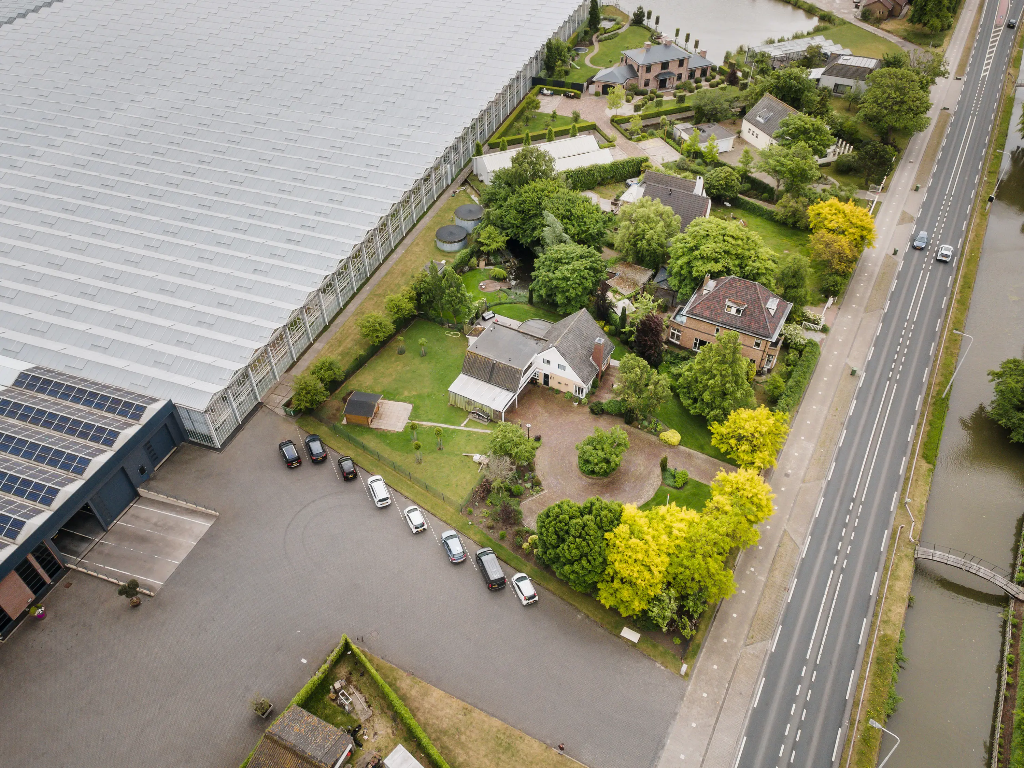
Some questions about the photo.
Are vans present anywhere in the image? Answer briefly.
Yes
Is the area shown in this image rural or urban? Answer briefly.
urban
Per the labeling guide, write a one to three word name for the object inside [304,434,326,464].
car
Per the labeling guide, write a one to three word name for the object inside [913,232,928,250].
car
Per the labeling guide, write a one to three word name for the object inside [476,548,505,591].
van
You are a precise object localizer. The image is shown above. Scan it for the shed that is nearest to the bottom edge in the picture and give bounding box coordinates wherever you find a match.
[250,705,355,768]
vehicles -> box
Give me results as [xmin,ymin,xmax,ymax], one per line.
[441,529,466,564]
[304,434,326,464]
[512,572,538,606]
[476,548,505,591]
[367,475,391,508]
[937,245,955,263]
[277,439,301,469]
[621,176,641,187]
[848,0,864,5]
[1007,21,1017,29]
[913,232,928,250]
[336,454,357,482]
[403,504,427,533]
